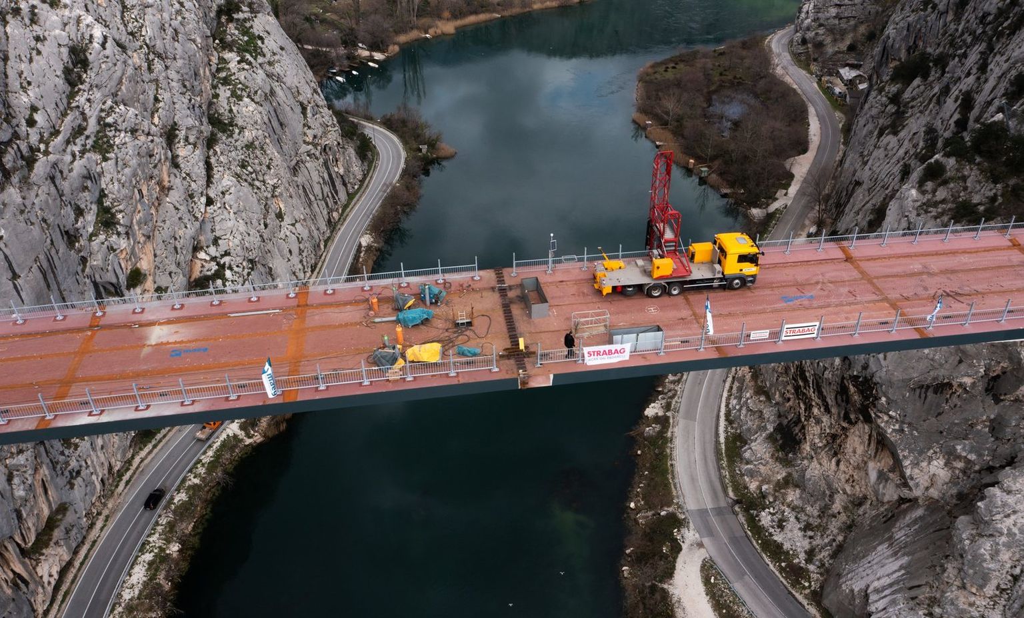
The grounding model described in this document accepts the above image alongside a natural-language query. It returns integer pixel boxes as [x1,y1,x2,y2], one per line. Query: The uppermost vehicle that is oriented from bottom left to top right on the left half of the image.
[192,425,216,442]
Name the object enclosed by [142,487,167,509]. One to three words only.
car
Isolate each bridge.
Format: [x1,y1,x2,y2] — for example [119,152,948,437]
[0,229,1024,450]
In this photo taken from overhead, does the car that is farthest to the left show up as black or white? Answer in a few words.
black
